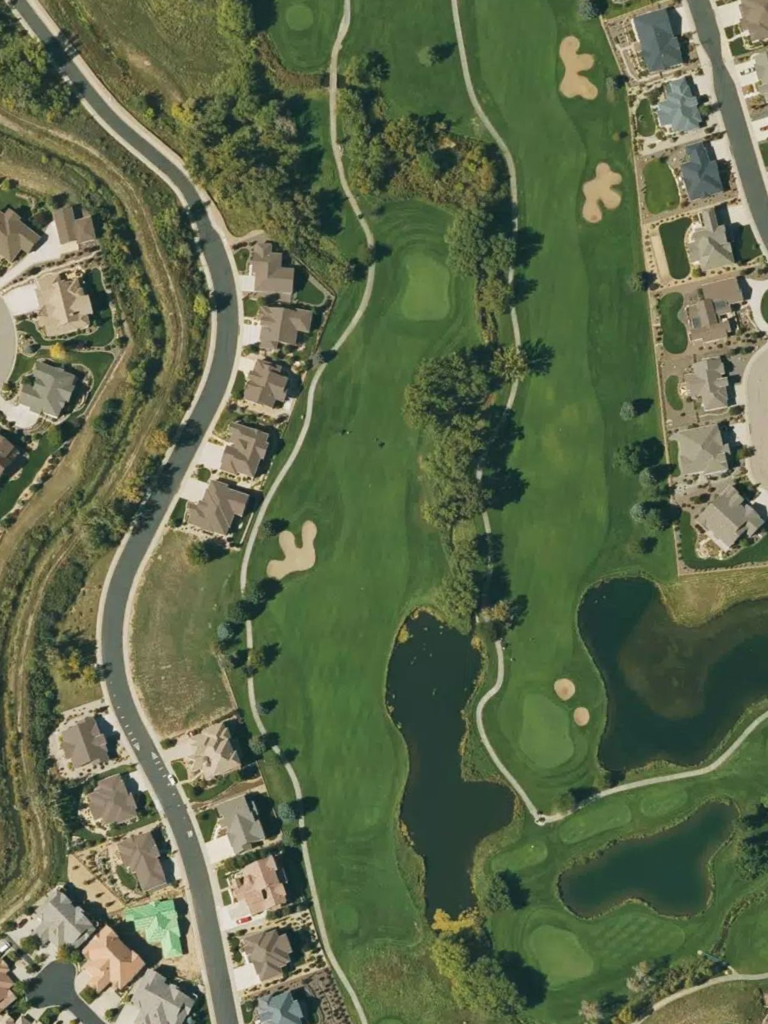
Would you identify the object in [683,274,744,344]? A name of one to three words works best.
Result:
house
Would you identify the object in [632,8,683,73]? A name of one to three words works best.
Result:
house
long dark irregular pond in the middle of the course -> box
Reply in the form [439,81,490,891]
[385,611,514,921]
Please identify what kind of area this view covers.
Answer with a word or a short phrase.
golf course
